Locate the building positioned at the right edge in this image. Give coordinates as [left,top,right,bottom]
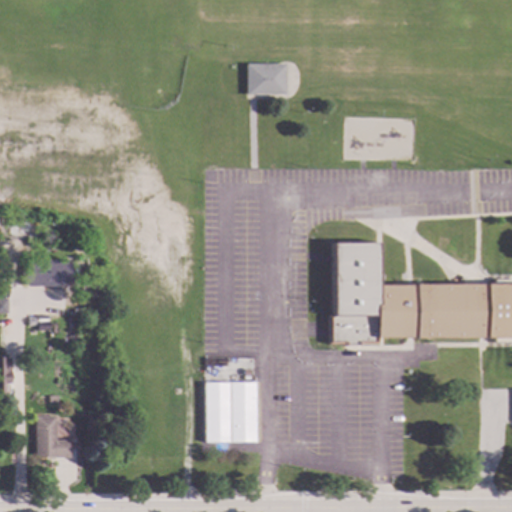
[330,244,512,344]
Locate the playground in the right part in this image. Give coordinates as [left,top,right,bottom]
[343,116,412,162]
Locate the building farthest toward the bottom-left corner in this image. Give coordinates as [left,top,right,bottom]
[36,414,74,460]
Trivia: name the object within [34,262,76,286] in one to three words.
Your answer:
house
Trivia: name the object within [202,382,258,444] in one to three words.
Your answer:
building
